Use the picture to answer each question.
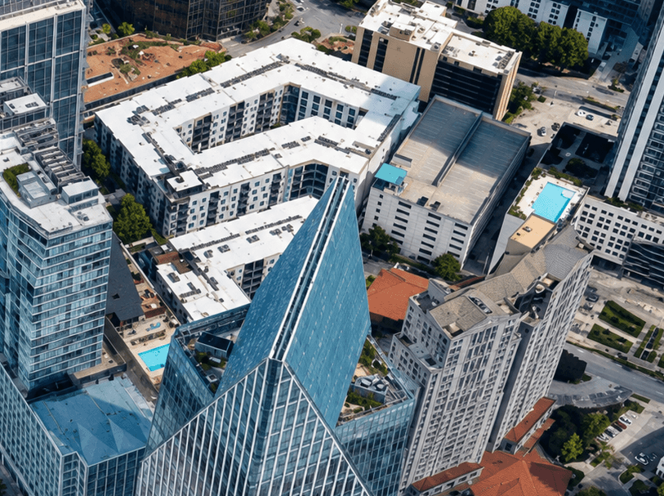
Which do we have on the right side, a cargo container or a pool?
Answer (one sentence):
Visible on the right side is a pool.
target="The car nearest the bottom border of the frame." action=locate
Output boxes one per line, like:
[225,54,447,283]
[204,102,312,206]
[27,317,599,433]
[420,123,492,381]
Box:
[633,452,650,465]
